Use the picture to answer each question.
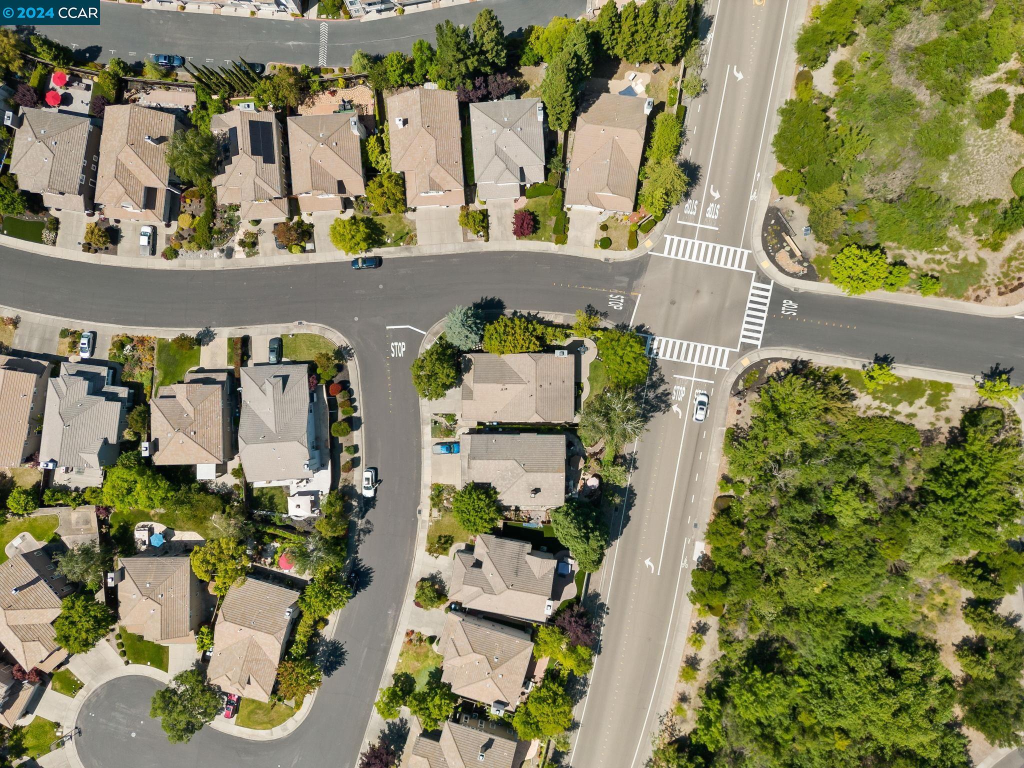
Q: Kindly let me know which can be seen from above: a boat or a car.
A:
car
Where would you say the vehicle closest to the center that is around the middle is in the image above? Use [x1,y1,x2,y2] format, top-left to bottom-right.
[431,441,460,456]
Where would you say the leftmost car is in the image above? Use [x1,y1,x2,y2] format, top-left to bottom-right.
[79,329,98,361]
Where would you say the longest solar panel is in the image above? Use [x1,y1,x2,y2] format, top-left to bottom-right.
[250,120,275,164]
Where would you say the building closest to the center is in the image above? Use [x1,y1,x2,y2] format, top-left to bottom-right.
[461,350,575,422]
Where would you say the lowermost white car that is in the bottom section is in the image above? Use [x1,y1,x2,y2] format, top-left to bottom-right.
[362,466,382,497]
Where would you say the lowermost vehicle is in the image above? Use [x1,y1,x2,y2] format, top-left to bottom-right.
[225,694,241,720]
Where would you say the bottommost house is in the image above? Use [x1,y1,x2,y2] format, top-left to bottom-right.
[400,708,518,768]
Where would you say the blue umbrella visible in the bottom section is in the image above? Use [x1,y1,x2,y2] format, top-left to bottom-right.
[150,533,166,548]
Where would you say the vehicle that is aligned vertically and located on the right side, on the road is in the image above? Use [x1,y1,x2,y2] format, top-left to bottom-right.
[692,392,710,424]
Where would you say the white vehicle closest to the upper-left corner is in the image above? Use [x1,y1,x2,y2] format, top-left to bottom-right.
[139,224,157,260]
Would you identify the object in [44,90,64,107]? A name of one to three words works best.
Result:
umbrella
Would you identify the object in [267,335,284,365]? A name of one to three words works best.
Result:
car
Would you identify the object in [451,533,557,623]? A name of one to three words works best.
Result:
house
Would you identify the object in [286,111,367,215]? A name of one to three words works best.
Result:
house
